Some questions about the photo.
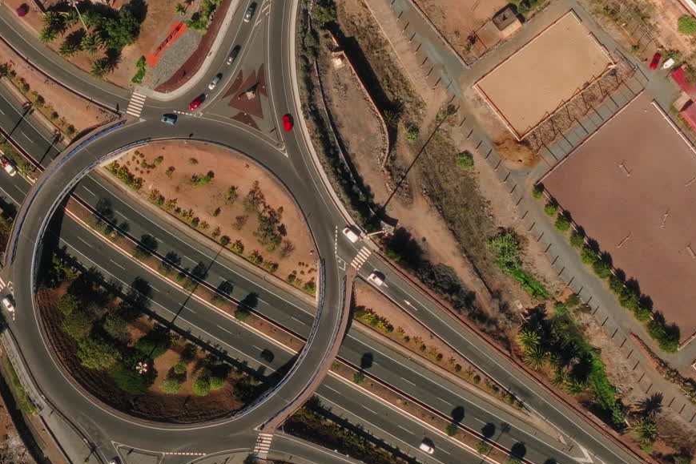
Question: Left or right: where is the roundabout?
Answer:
left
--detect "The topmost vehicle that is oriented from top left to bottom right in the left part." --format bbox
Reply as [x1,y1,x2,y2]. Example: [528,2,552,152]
[0,155,17,176]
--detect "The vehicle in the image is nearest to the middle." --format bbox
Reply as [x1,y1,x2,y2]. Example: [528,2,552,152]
[343,226,362,245]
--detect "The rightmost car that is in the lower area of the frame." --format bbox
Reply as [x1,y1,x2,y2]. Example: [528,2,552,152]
[420,441,436,455]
